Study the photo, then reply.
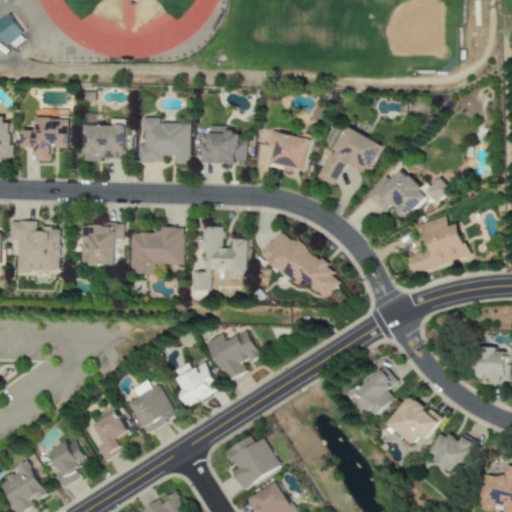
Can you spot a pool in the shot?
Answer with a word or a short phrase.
Yes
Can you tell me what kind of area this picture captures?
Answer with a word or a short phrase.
residential area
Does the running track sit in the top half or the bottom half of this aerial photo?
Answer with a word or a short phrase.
top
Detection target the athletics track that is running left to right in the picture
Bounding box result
[40,0,219,58]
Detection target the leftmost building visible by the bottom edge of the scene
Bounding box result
[5,460,48,512]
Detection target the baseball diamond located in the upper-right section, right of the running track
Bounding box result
[386,0,450,60]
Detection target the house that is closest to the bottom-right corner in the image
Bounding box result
[482,464,512,511]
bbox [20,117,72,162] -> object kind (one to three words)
house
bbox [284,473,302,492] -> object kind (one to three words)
swimming pool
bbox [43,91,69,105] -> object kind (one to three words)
swimming pool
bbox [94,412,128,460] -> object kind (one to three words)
house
